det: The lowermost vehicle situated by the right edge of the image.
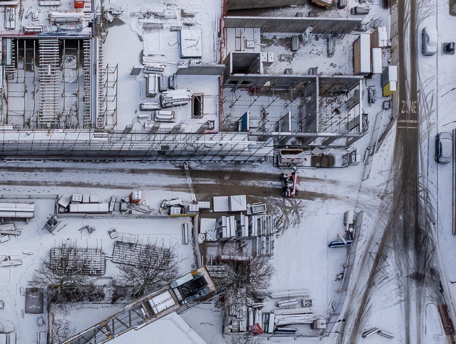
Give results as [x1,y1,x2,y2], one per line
[433,134,453,165]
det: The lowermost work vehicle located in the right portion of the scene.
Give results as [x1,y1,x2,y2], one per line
[278,166,299,201]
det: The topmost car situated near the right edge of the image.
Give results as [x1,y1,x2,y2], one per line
[418,28,437,59]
